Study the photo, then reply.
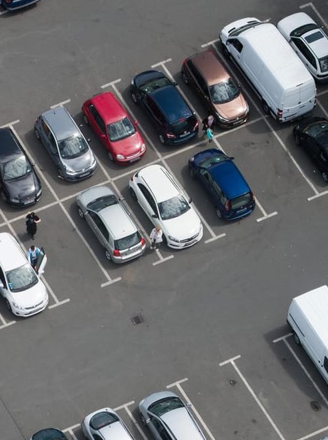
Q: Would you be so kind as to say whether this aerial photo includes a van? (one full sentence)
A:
Yes, the frame does contain a van.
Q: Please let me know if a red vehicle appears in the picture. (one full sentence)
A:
Yes, a red vehicle is visible in the scene.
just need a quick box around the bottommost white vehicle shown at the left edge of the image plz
[0,231,49,318]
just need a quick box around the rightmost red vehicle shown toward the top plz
[82,92,146,167]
